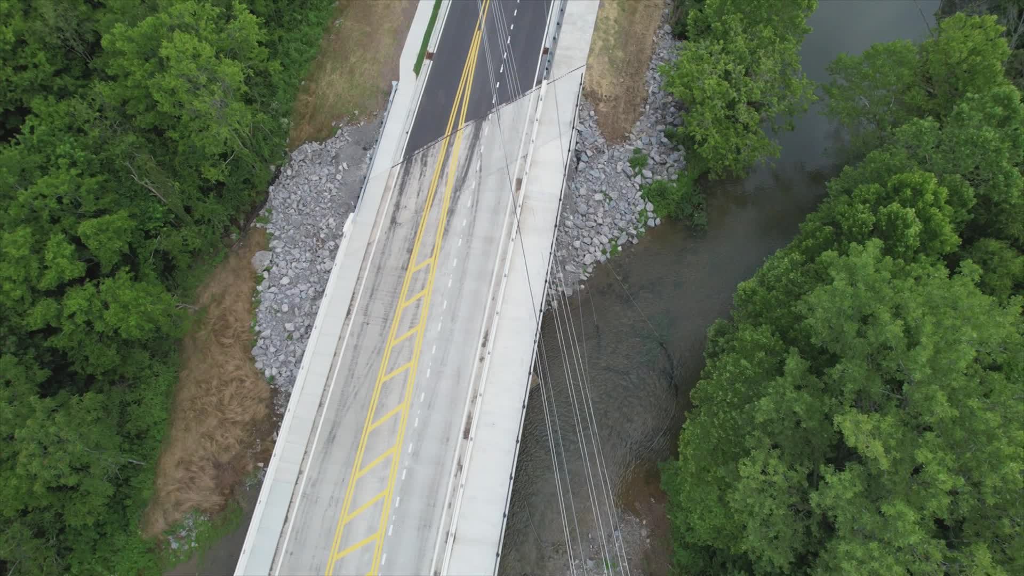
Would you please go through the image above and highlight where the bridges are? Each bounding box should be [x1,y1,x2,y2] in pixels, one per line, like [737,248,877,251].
[234,65,586,576]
